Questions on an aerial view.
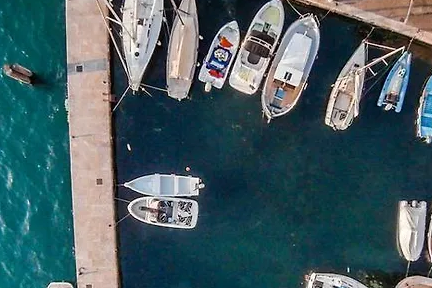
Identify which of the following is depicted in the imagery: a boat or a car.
boat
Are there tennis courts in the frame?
No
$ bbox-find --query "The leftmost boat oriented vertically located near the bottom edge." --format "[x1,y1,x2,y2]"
[397,196,426,276]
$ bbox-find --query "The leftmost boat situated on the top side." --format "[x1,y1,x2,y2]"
[96,0,167,109]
